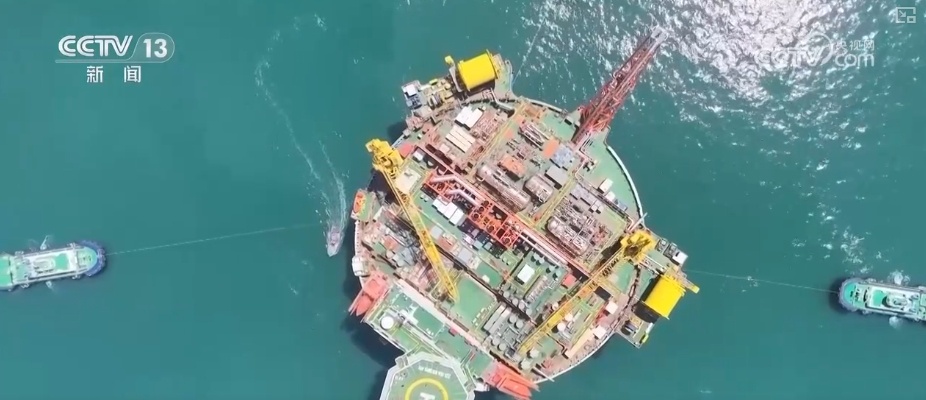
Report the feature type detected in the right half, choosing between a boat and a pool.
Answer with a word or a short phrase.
boat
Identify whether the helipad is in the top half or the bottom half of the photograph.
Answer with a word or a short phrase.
bottom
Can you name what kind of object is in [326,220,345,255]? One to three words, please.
boat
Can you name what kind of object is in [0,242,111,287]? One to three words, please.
boat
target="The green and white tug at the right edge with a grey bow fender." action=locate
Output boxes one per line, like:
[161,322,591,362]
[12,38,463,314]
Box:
[832,278,926,325]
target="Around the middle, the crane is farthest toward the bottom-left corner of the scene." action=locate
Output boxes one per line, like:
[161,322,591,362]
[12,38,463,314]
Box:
[371,140,458,302]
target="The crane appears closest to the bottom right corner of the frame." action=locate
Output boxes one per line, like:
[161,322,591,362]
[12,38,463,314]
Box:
[516,225,658,357]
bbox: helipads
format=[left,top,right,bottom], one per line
[379,349,477,400]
